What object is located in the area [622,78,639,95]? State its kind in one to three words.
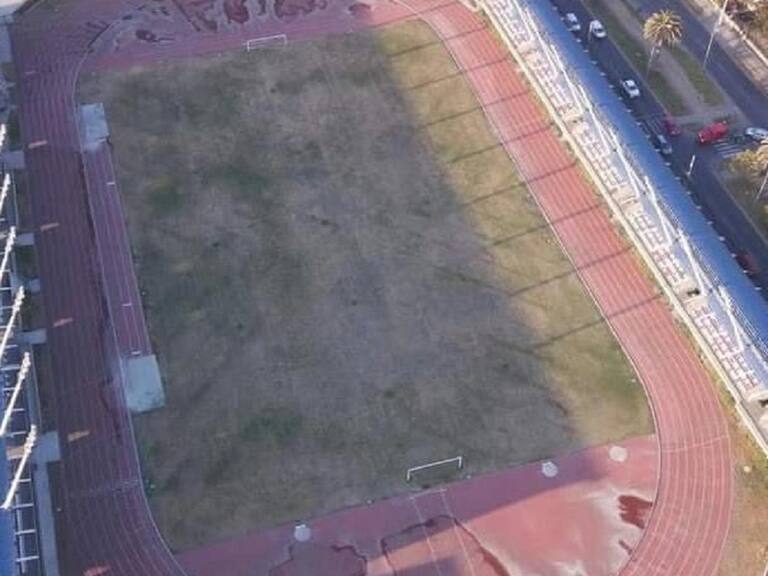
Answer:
car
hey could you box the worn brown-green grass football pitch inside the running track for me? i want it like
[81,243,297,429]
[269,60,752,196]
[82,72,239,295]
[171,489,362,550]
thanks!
[76,21,656,553]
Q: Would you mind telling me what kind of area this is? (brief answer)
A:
sports ground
